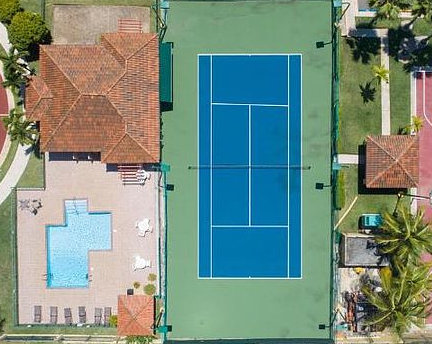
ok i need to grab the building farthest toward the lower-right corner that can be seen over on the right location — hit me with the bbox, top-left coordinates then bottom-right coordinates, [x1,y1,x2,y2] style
[342,234,386,266]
